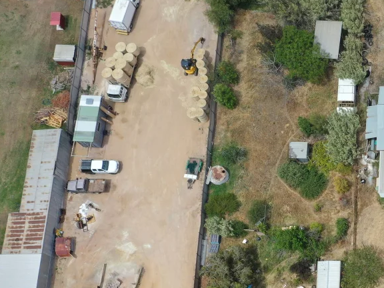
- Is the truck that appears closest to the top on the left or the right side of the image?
left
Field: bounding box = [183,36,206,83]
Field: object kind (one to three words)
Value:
work vehicle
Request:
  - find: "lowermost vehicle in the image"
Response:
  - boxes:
[64,176,108,194]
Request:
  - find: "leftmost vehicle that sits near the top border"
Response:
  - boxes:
[109,0,142,37]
